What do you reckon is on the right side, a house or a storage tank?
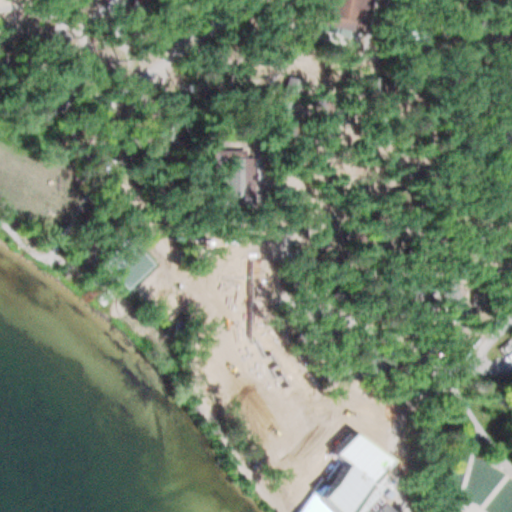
house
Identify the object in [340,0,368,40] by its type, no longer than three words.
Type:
house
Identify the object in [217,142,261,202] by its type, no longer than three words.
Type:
house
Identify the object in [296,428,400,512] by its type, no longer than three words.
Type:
building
